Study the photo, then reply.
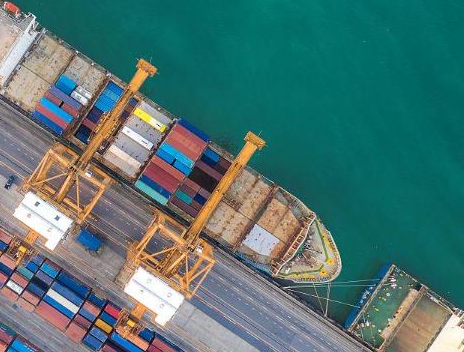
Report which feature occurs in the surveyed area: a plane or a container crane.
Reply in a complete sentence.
Of the two, only a container crane appears.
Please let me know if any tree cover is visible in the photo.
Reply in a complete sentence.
No, tree cover can't be seen anywhere here.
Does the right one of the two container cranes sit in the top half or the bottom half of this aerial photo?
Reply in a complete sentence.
It is in the bottom half that the right one of the two container cranes appears.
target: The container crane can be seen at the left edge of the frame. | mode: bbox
[3,55,159,268]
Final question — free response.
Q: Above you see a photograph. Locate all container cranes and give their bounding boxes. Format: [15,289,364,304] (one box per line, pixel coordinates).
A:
[3,55,159,268]
[111,129,273,342]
